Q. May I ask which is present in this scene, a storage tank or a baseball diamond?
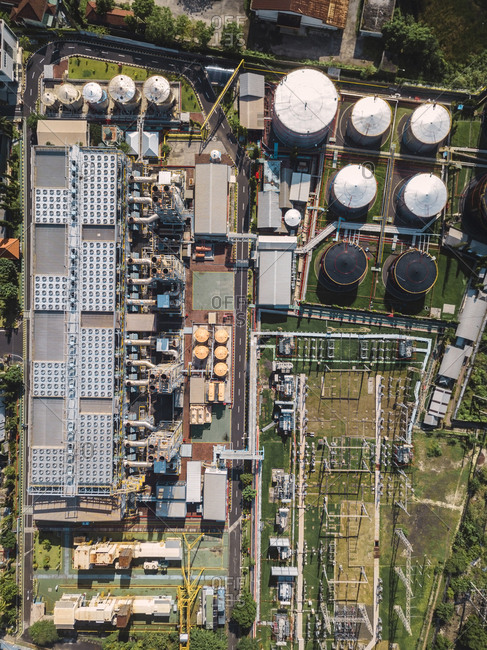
storage tank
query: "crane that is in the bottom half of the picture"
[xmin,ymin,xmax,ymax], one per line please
[178,530,204,650]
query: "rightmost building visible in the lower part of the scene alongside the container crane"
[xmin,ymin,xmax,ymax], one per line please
[204,468,227,521]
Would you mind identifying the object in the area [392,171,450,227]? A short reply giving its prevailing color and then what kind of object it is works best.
white storage tank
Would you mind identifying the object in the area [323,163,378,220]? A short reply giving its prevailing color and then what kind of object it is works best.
white storage tank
